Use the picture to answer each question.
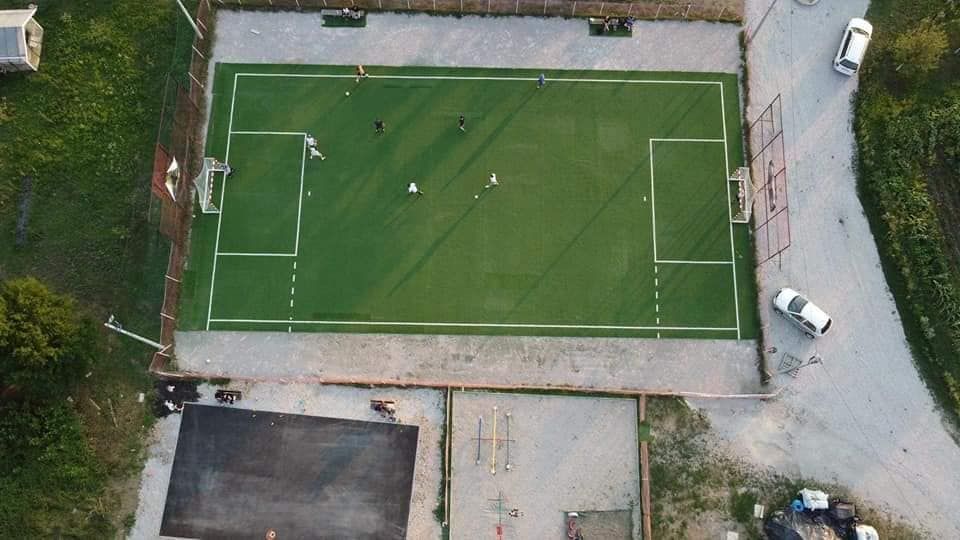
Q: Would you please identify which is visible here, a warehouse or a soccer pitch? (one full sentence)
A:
The image shows a soccer pitch.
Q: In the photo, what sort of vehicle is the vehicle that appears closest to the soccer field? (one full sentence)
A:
What you see as the vehicle that appears closest to the soccer field is an automobile.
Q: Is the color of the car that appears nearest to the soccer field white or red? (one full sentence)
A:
From above, the car that appears nearest to the soccer field appears white.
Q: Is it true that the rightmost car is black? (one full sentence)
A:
No, the rightmost car is white.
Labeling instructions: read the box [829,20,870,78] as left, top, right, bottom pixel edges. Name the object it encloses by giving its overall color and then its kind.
white car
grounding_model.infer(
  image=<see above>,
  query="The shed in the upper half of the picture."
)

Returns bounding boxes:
[0,1,45,71]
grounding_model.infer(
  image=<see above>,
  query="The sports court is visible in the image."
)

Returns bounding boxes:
[159,401,419,540]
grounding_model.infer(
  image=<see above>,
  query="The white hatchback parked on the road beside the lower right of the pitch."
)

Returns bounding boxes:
[768,290,833,341]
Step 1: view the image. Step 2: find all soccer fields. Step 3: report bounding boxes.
[176,64,758,339]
